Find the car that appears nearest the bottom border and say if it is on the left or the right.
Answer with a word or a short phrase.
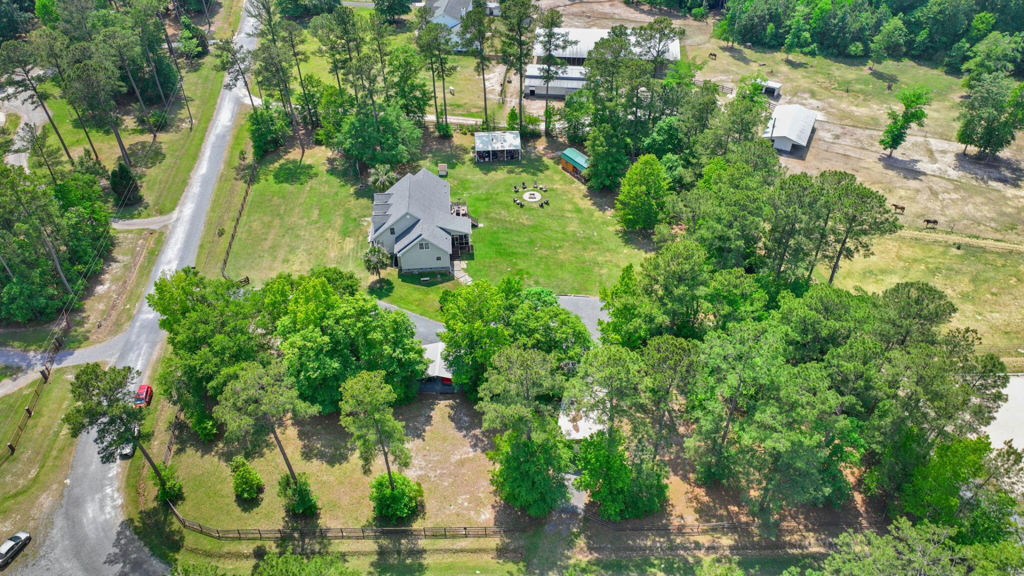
left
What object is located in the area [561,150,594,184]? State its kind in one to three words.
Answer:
building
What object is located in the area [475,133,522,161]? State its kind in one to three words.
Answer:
shed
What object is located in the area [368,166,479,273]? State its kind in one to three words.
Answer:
house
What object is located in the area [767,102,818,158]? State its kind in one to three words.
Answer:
barn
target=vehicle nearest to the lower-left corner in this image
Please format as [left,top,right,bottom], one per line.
[0,531,34,568]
